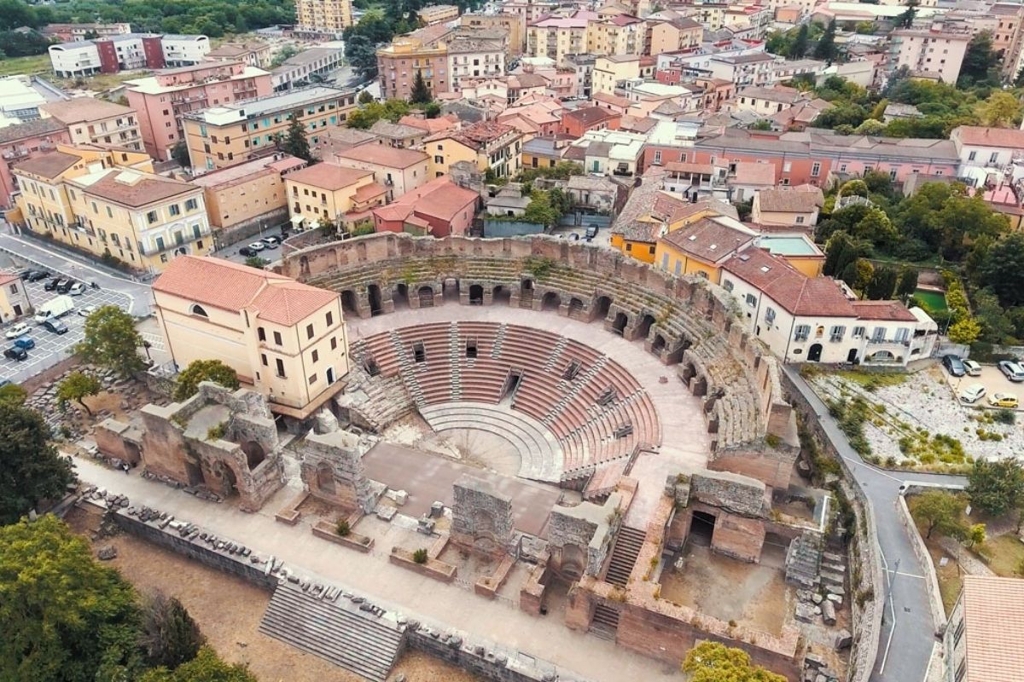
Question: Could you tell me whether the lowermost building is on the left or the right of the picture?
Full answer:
You can find the lowermost building on the right side of the picture.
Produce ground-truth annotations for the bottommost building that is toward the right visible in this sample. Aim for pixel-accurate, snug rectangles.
[933,572,1024,682]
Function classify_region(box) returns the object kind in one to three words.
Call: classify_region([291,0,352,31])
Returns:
building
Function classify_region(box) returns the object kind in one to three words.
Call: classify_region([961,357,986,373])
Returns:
car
